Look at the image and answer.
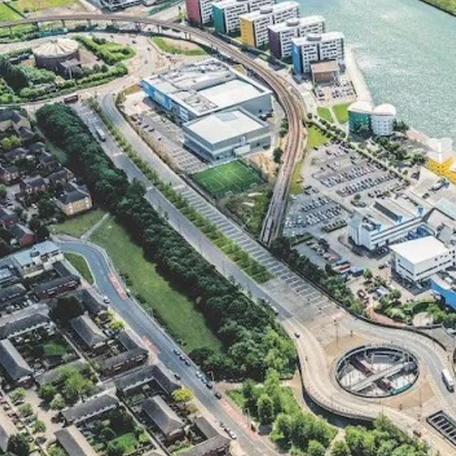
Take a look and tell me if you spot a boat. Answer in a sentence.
No, there is no boat in the image.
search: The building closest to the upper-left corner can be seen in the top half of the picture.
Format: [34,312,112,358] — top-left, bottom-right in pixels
[30,40,81,79]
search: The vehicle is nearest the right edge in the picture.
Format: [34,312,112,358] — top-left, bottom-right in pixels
[442,366,455,390]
